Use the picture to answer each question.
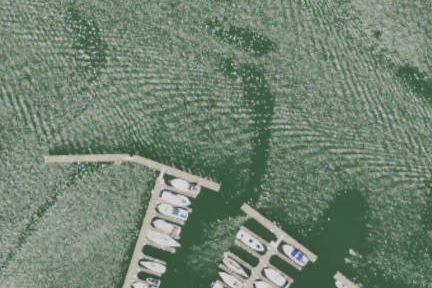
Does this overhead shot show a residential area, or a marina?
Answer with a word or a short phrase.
marina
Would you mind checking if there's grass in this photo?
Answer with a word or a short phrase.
No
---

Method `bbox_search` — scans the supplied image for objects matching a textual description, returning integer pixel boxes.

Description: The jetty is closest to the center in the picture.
[128,156,220,192]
